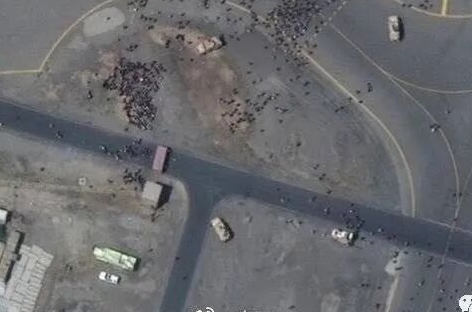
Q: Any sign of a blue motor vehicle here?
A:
No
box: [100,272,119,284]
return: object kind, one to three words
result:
vehicle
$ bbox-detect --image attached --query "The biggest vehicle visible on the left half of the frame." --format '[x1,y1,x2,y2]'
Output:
[92,247,137,272]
